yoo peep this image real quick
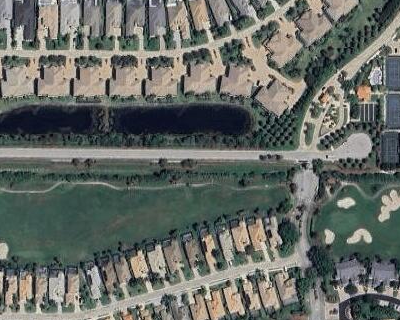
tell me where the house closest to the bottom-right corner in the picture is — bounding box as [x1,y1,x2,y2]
[370,260,397,286]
